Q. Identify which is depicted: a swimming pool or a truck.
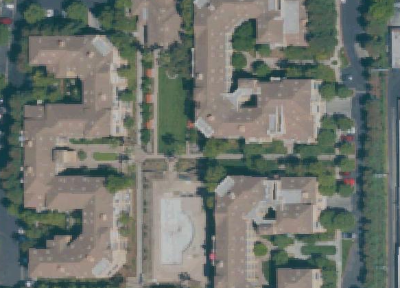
swimming pool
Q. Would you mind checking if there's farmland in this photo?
No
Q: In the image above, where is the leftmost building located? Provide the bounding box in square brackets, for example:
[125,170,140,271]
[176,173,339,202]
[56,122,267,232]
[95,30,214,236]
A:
[24,36,130,278]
